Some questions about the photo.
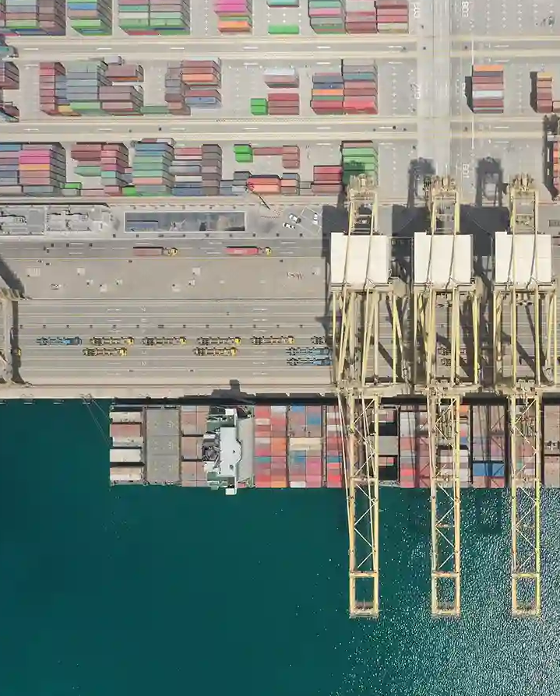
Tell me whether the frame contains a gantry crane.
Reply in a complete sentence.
Yes, there's a gantry crane down there.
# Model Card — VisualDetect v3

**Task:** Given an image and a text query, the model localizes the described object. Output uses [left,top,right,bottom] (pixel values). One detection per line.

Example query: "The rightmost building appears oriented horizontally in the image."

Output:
[47,205,109,233]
